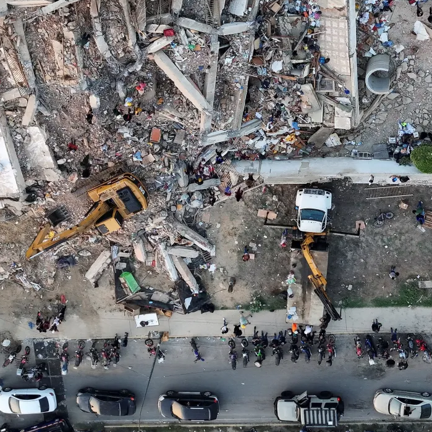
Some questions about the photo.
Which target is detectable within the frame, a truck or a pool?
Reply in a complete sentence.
I can see a truck in this picture.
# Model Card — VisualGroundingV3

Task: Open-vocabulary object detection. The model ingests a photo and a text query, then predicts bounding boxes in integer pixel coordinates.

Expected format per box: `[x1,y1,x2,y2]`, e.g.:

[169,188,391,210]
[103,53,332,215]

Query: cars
[78,390,138,420]
[276,387,344,430]
[159,393,220,424]
[373,389,432,420]
[0,389,59,419]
